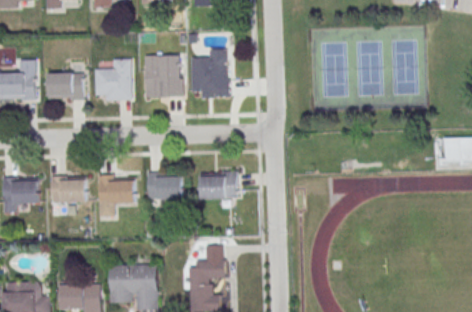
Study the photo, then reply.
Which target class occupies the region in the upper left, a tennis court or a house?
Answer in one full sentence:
The one visible in the upper left is a house.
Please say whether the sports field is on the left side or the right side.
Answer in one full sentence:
You can find the sports field on the right side of the picture.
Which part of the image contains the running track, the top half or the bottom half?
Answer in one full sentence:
The running track is in the bottom half of the image.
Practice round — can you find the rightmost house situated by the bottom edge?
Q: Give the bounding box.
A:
[190,244,227,312]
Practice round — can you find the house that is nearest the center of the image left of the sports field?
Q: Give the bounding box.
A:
[197,172,240,200]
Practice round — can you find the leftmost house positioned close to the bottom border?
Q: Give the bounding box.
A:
[2,282,52,312]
